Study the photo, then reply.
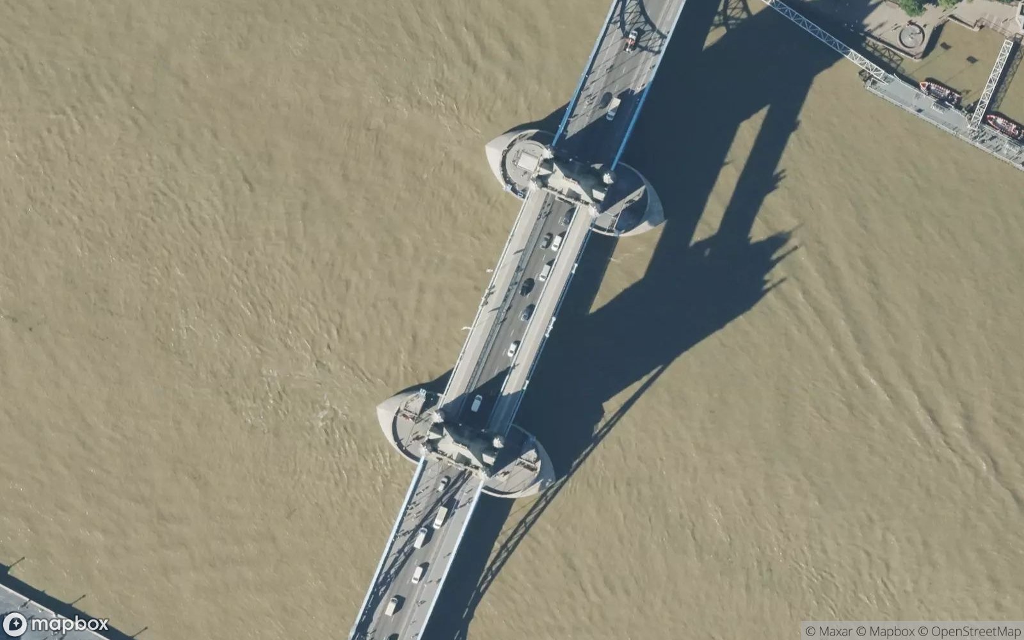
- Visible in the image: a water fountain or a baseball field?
water fountain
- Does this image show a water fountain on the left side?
No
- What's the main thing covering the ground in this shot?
water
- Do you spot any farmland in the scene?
No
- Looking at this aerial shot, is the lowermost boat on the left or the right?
right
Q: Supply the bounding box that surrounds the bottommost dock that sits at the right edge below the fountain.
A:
[867,72,1024,168]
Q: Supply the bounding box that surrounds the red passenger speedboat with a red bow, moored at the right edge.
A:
[986,114,1024,142]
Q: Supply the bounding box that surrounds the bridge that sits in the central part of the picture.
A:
[346,0,691,640]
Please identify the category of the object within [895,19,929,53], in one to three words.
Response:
fountain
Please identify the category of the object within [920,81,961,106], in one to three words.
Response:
boat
